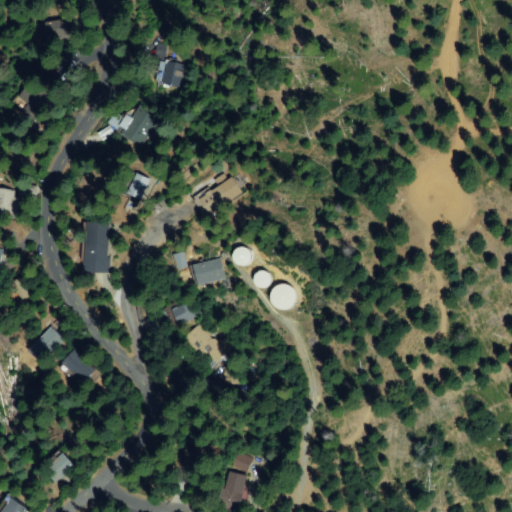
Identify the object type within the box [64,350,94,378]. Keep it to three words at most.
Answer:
house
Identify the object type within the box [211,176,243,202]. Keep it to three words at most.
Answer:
house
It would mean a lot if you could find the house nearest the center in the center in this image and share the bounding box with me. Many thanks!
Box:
[194,258,226,285]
